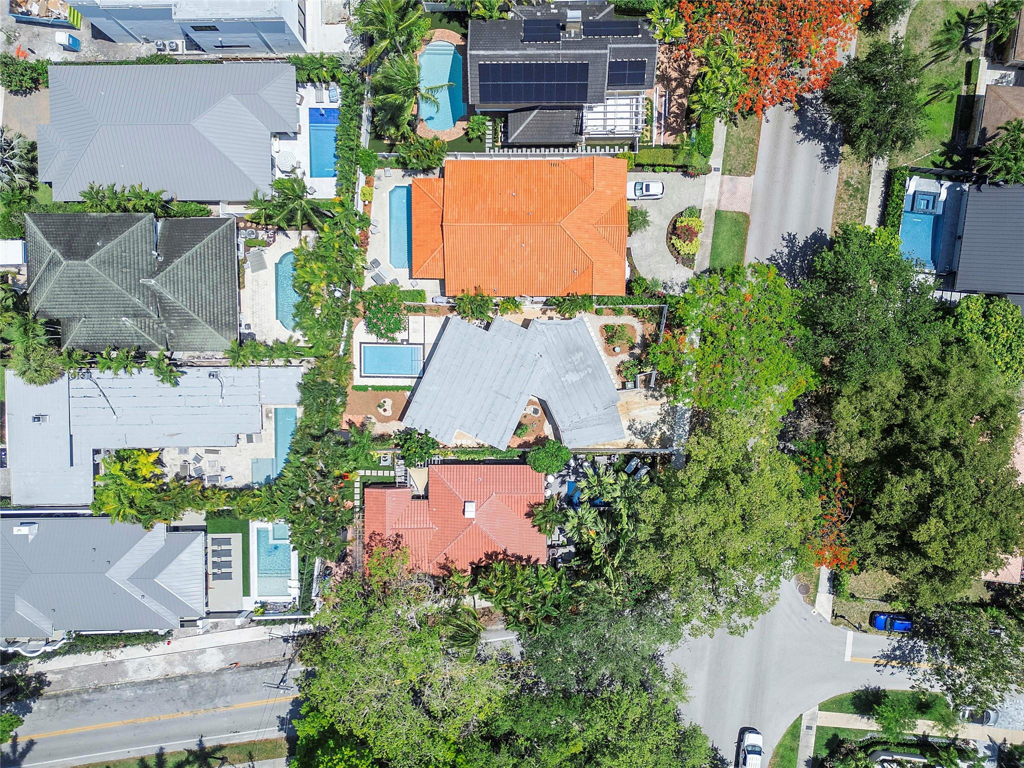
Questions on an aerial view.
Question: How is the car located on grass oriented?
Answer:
from left to right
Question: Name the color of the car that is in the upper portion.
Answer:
white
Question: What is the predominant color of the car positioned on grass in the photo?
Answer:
blue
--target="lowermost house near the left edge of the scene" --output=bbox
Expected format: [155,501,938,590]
[0,517,215,638]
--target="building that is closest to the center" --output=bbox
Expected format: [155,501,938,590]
[402,316,625,451]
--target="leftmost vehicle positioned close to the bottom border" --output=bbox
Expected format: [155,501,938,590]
[740,727,763,768]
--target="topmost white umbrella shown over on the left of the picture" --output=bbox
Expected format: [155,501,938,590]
[278,153,297,172]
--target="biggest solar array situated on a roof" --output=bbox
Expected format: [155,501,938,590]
[479,61,589,102]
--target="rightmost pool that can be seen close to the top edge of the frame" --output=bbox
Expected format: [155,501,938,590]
[416,38,469,132]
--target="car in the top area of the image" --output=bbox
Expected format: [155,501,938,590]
[627,180,664,200]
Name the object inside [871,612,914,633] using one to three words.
car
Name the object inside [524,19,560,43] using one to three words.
solar array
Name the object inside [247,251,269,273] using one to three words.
umbrella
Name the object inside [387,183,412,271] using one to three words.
swimming pool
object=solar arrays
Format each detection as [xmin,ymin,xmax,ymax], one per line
[583,21,639,37]
[479,61,589,102]
[524,19,560,43]
[609,59,646,85]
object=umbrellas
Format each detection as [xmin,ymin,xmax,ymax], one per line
[278,153,297,172]
[247,251,269,273]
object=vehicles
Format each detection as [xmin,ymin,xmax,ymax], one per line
[871,612,914,633]
[627,180,664,200]
[955,706,998,728]
[740,727,763,768]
